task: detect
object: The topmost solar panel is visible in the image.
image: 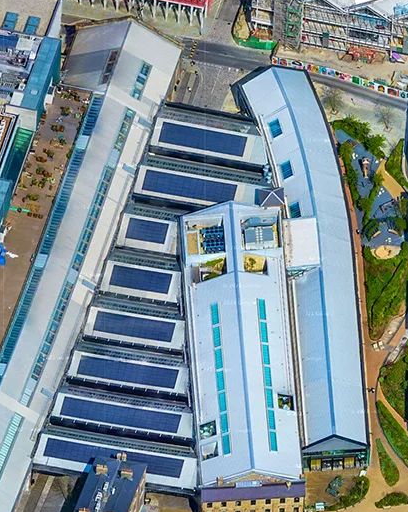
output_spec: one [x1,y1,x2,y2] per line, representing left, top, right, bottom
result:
[159,121,247,156]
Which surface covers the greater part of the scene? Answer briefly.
buildings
